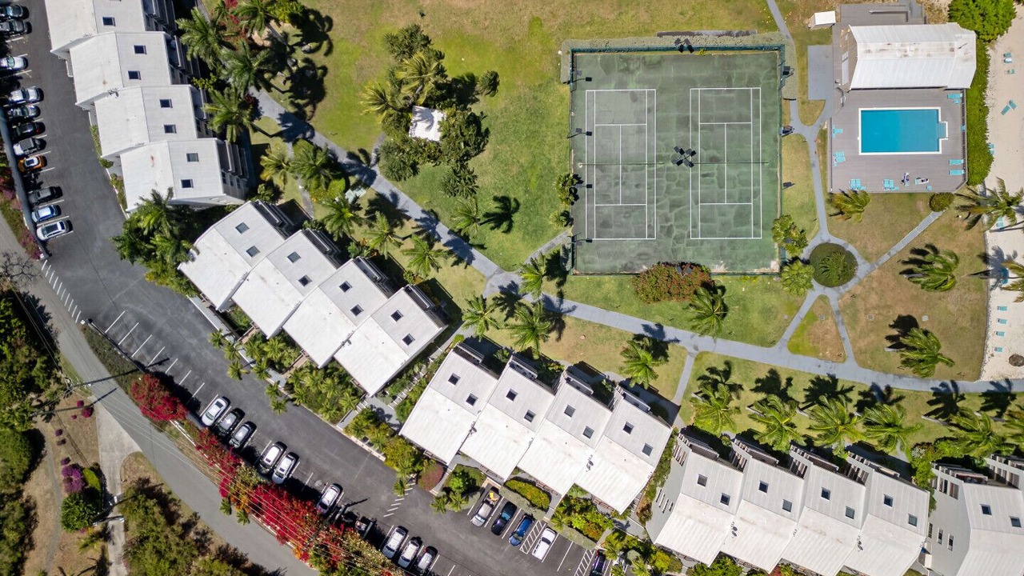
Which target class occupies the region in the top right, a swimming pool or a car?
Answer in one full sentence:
What appears in the top right is a swimming pool.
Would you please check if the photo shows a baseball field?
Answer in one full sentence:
No, there is no baseball field in the image.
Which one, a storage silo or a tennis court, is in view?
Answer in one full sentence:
Visible in the photo is a tennis court.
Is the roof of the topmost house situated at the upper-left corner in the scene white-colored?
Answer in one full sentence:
Yes, white is the color of the roof of the topmost house situated at the upper-left corner.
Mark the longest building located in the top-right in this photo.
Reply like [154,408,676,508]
[837,27,977,94]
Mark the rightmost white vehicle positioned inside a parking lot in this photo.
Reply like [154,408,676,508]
[531,528,556,559]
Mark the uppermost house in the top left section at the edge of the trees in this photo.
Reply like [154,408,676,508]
[38,0,174,60]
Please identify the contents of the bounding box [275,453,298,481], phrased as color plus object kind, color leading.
white car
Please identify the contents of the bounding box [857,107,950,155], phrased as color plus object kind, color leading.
blue swimming pool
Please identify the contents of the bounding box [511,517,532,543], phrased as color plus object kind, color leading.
blue car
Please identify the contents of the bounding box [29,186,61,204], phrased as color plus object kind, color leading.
gray car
